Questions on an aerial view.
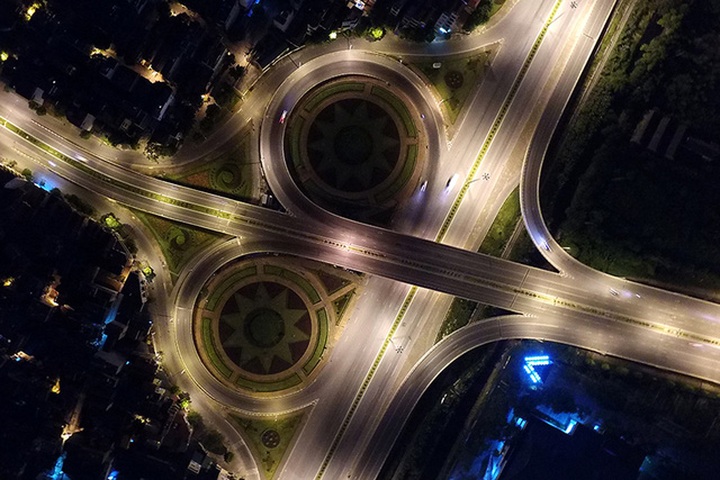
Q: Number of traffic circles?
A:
2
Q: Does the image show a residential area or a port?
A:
residential area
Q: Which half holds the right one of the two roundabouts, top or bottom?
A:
top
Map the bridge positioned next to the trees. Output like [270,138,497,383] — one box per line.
[0,103,720,363]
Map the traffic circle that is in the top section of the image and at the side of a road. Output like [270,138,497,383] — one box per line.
[285,78,427,228]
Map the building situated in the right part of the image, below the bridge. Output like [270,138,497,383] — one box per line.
[485,408,650,480]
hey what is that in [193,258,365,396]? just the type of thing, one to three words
roundabout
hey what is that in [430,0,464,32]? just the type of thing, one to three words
house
